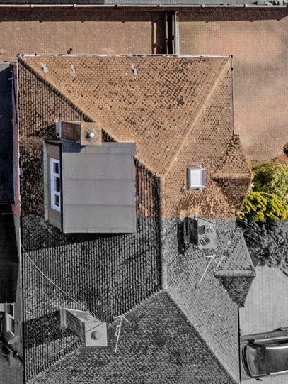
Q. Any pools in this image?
No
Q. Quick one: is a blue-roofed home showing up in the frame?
No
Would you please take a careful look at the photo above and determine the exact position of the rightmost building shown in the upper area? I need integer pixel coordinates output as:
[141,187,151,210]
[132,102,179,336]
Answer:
[15,53,256,234]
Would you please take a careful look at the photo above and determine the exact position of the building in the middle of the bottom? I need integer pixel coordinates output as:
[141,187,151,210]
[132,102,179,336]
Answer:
[4,203,259,384]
